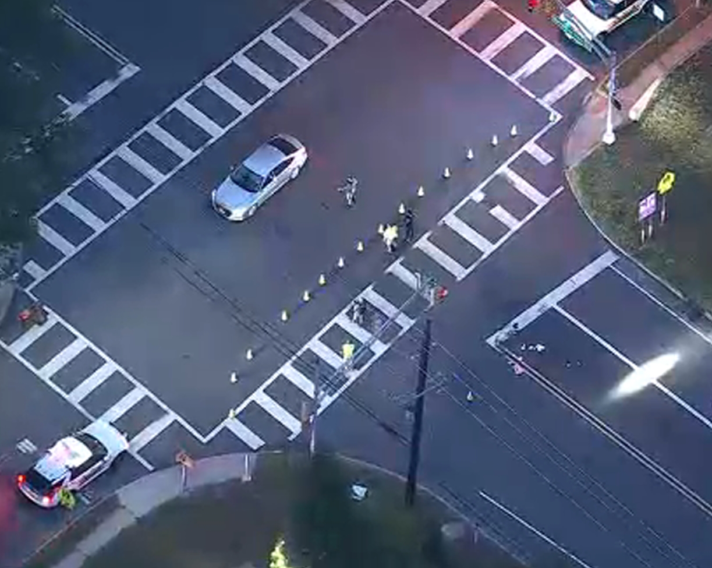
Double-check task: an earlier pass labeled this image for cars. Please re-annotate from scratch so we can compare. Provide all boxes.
[19,422,134,511]
[212,132,306,221]
[558,0,663,48]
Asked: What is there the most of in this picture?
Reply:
paved ground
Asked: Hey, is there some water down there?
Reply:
No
